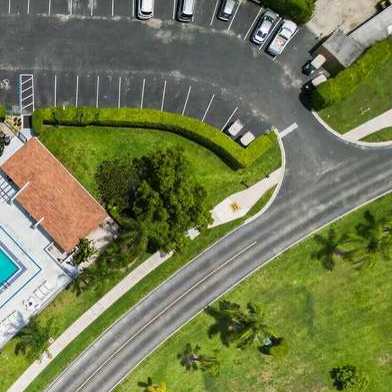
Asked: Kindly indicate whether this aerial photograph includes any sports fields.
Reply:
No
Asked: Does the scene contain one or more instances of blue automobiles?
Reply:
No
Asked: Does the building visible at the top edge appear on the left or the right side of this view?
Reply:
right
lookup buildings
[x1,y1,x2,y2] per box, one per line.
[2,136,109,253]
[312,0,392,74]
